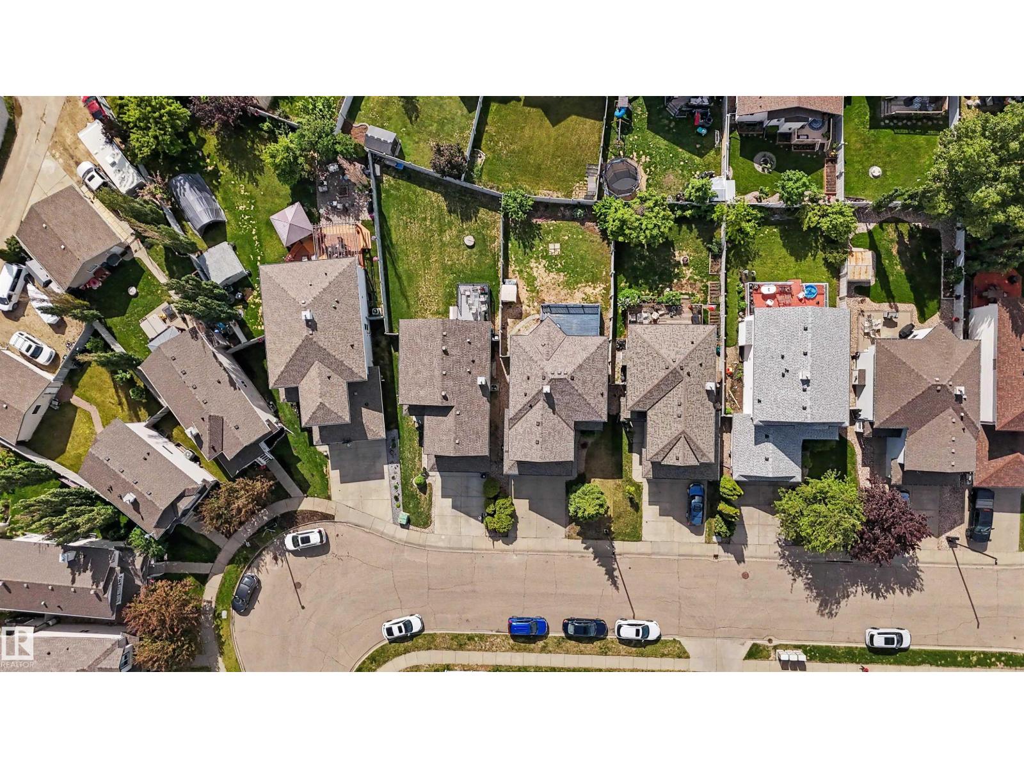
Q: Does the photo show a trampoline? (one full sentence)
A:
Yes, looking at the shot, I can spot a trampoline.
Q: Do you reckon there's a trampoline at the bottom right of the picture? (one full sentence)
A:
No, no trampoline appears at the bottom right of the picture.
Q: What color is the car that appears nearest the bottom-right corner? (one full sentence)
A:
The car that appears nearest the bottom-right corner is white.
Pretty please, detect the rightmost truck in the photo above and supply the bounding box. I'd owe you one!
[966,487,993,540]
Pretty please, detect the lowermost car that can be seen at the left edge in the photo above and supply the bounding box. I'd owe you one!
[9,333,58,364]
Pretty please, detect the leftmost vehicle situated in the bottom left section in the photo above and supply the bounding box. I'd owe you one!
[234,570,262,613]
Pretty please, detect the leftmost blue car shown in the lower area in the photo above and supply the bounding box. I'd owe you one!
[508,615,548,637]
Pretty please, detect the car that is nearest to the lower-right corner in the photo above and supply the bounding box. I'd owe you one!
[864,626,910,649]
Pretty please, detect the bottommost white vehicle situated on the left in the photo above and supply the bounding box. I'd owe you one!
[380,613,425,641]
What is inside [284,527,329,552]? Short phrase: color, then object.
white car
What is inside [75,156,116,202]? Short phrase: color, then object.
white car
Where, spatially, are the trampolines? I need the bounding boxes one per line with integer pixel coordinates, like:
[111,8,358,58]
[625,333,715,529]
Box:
[604,163,640,197]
